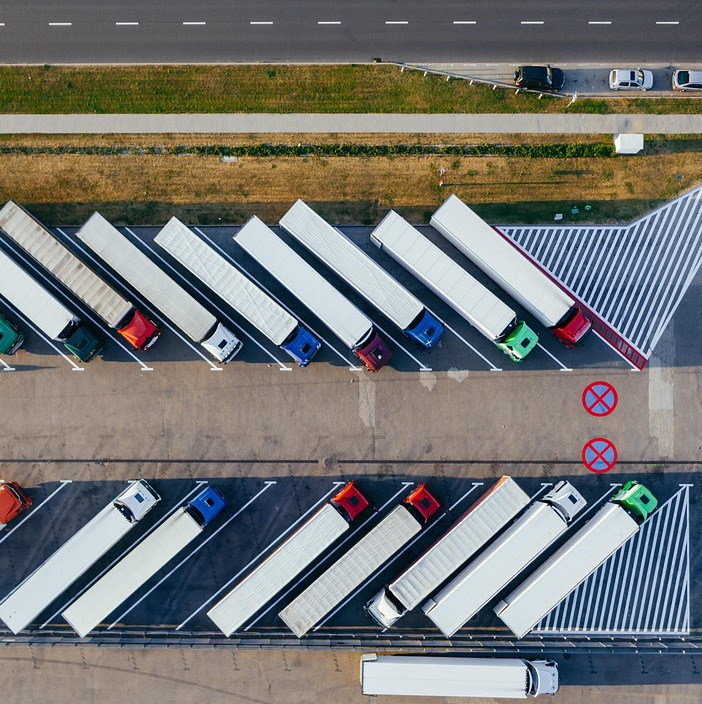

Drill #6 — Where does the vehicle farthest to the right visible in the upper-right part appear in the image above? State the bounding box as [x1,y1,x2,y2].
[670,68,702,94]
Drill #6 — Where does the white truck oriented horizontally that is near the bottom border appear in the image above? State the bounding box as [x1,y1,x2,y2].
[359,652,553,698]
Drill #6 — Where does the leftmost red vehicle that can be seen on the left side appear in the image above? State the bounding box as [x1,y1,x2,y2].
[0,481,40,540]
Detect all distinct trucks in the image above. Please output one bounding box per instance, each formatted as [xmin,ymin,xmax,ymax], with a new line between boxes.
[233,215,396,372]
[0,199,163,353]
[363,474,531,628]
[368,209,537,362]
[278,199,445,352]
[75,211,245,368]
[0,248,107,367]
[0,475,164,634]
[490,482,657,639]
[207,481,371,637]
[153,216,323,368]
[0,481,40,540]
[426,193,593,349]
[278,482,442,639]
[359,652,553,698]
[421,479,586,638]
[61,481,230,638]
